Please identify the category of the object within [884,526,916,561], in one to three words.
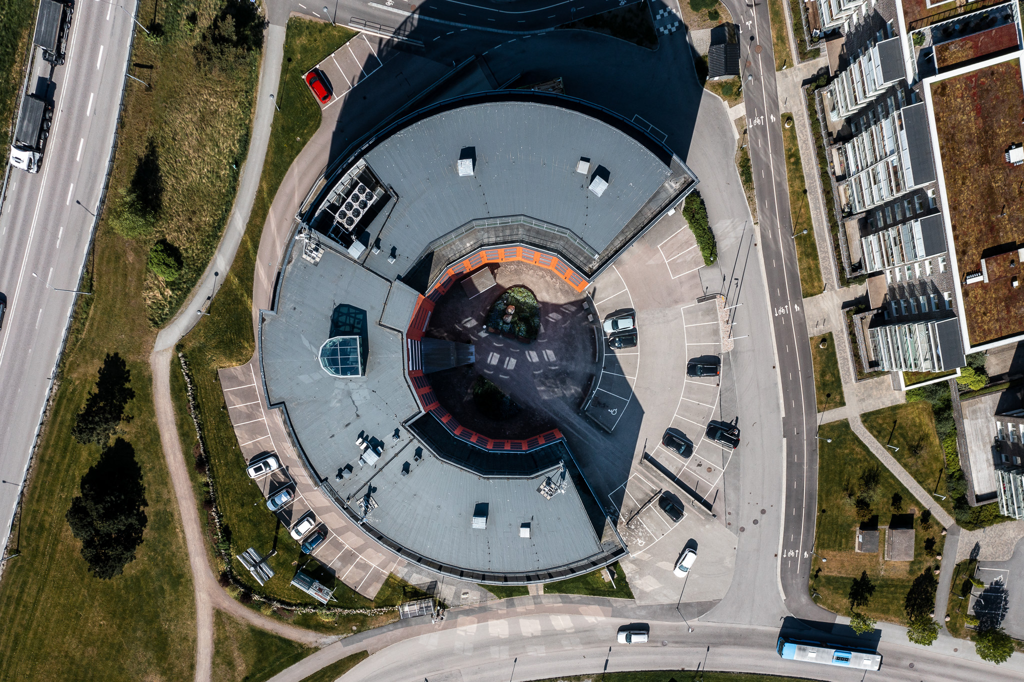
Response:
house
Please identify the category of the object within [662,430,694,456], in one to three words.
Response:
car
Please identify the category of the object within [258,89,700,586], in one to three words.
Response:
building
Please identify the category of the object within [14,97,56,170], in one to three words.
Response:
truck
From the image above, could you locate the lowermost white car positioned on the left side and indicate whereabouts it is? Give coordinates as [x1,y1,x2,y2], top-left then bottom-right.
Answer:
[290,517,317,541]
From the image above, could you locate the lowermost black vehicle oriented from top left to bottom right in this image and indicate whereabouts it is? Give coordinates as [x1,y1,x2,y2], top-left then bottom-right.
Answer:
[658,493,685,523]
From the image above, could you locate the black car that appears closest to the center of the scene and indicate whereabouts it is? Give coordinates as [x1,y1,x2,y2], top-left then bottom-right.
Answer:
[608,335,638,350]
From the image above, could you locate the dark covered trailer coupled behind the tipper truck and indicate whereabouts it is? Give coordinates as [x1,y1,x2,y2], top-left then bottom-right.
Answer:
[33,0,73,78]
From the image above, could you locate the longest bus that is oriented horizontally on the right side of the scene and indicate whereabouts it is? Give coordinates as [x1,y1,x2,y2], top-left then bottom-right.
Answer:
[773,634,882,671]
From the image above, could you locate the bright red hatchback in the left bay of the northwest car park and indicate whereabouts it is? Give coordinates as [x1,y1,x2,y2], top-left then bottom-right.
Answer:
[306,72,330,104]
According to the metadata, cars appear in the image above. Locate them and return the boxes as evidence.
[300,529,329,555]
[306,72,330,104]
[658,493,685,523]
[675,548,696,578]
[246,457,280,478]
[705,427,740,451]
[608,335,638,350]
[662,430,694,456]
[290,517,317,541]
[265,489,296,511]
[617,629,648,644]
[687,363,720,378]
[603,317,636,333]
